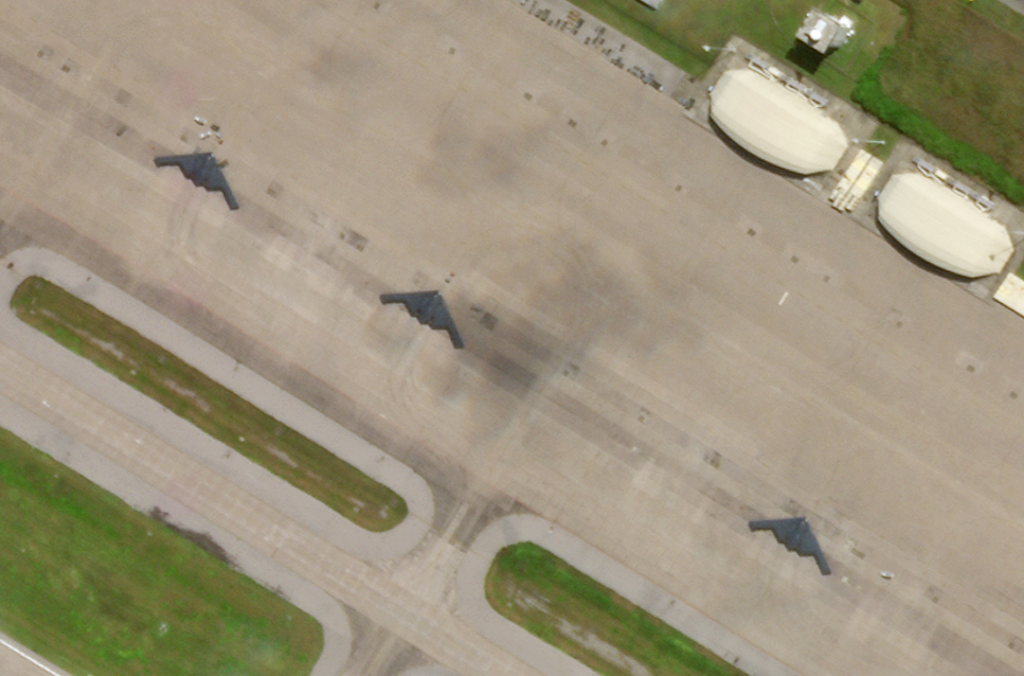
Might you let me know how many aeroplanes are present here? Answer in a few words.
three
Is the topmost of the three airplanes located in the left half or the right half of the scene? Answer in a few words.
left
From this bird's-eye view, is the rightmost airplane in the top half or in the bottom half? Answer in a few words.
bottom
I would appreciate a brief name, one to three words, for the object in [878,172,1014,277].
hangar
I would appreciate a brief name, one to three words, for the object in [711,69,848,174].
hangar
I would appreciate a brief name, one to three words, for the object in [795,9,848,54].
building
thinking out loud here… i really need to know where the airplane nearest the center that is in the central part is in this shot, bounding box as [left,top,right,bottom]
[380,291,464,347]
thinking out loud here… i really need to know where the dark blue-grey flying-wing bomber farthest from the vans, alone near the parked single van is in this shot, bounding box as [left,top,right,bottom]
[747,517,831,574]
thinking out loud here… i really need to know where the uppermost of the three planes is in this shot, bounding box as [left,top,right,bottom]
[154,153,239,209]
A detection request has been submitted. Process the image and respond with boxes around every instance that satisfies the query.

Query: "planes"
[154,153,239,209]
[747,517,831,574]
[380,291,464,347]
